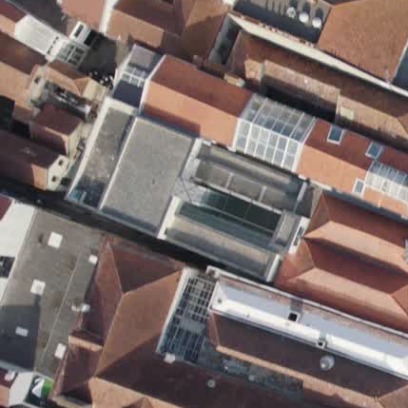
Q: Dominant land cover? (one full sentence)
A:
For the most part, this view shows buildings.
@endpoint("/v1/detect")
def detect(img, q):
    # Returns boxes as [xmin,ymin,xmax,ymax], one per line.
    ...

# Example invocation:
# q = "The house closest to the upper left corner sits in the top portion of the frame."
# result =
[0,0,36,34]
